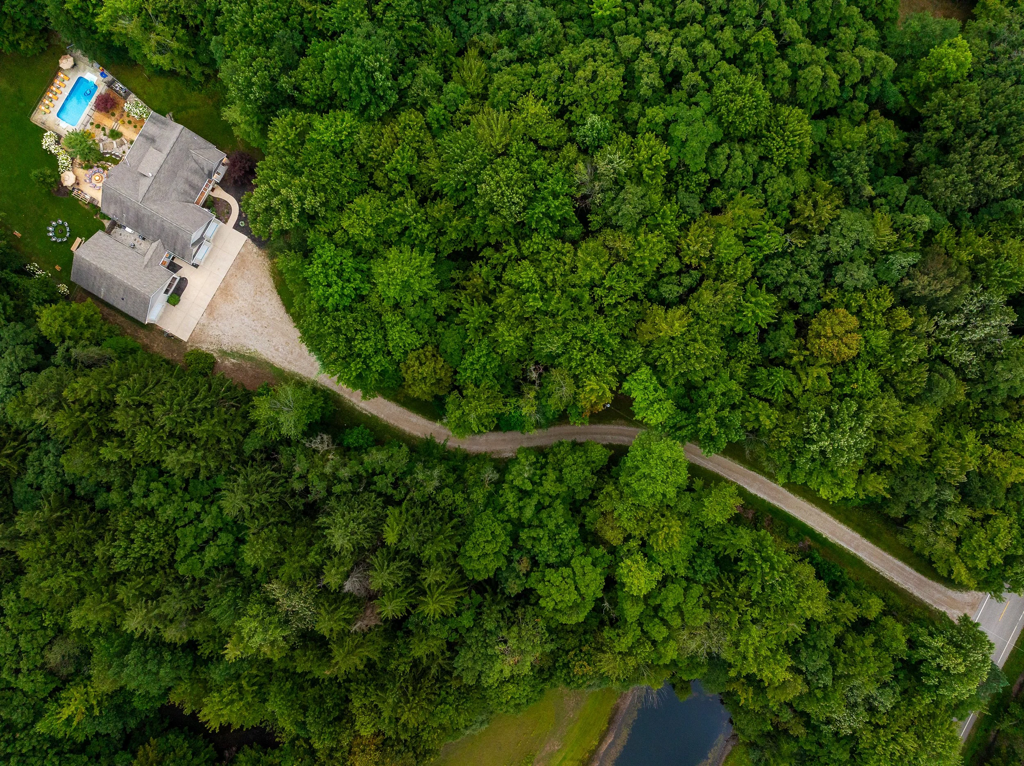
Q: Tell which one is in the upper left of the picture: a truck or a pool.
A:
pool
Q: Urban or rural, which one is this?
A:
rural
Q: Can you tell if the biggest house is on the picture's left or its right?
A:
left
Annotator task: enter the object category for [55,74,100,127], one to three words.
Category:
swimming pool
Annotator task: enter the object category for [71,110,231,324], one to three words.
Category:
house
